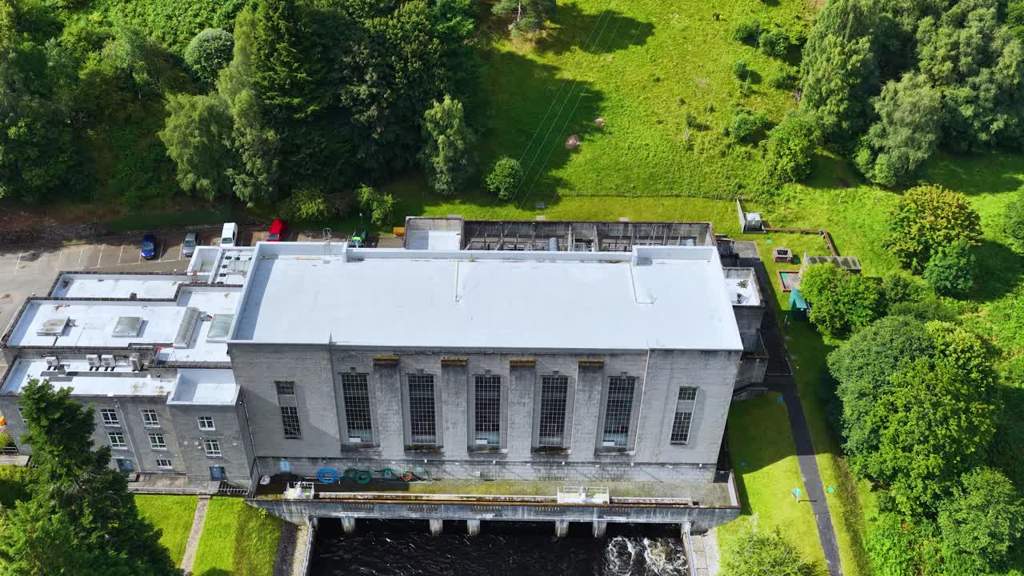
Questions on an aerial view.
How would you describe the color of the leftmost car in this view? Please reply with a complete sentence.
In this view, the leftmost car is blue.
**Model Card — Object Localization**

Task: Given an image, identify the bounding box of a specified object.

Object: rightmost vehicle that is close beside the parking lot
[348,215,372,250]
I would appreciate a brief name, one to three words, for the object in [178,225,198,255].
car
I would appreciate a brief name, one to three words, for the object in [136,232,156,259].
car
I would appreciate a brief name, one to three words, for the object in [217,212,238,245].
vehicle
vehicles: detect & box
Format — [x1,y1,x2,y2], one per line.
[348,215,372,250]
[136,232,156,259]
[217,212,238,245]
[178,225,198,255]
[266,212,285,241]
